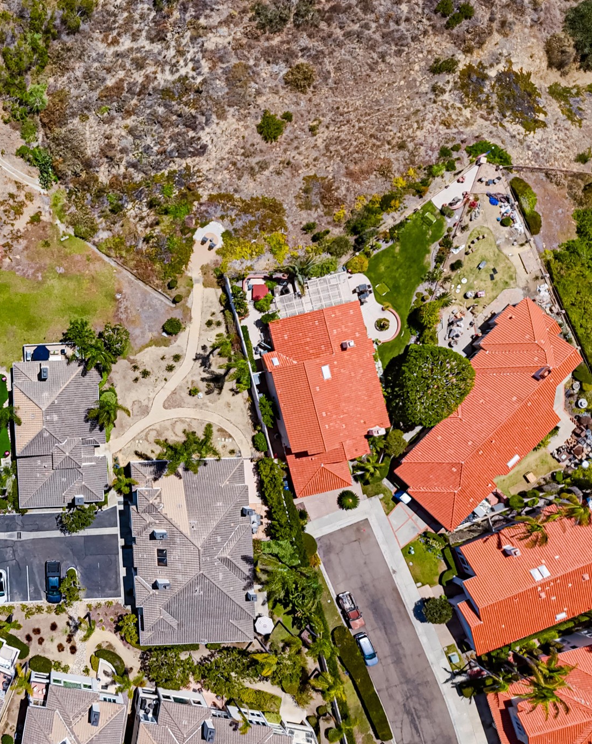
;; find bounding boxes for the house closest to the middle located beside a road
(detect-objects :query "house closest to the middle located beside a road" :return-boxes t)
[257,300,391,499]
